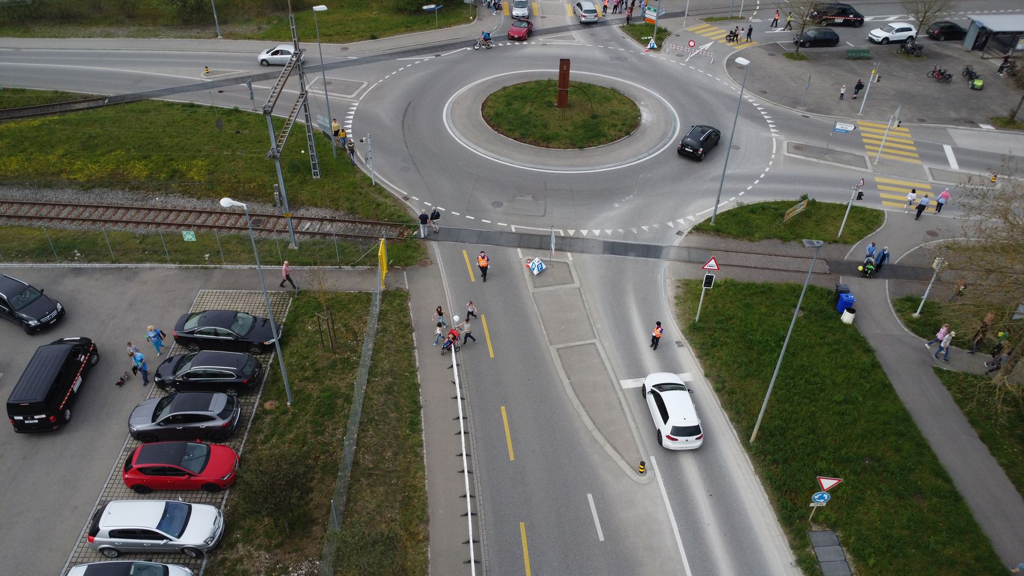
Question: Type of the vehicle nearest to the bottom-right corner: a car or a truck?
car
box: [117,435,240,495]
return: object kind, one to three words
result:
car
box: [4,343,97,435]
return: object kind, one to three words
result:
van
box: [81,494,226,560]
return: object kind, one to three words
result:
car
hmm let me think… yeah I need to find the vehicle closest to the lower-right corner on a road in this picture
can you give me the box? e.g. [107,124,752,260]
[642,372,706,455]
